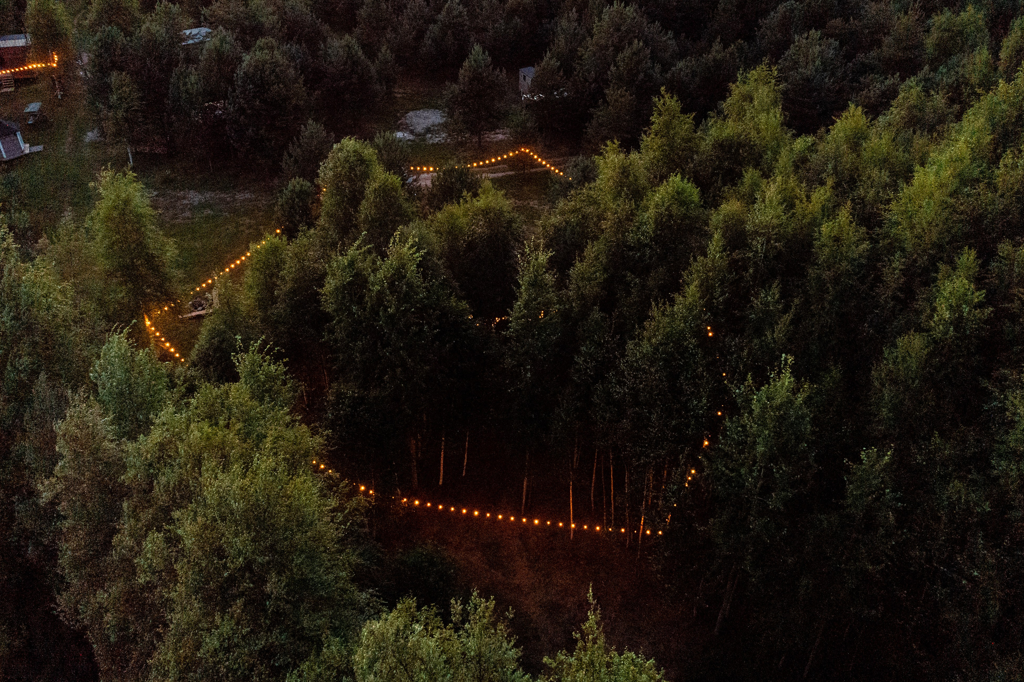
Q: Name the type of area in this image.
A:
forest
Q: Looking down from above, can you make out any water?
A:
No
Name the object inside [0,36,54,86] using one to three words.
building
